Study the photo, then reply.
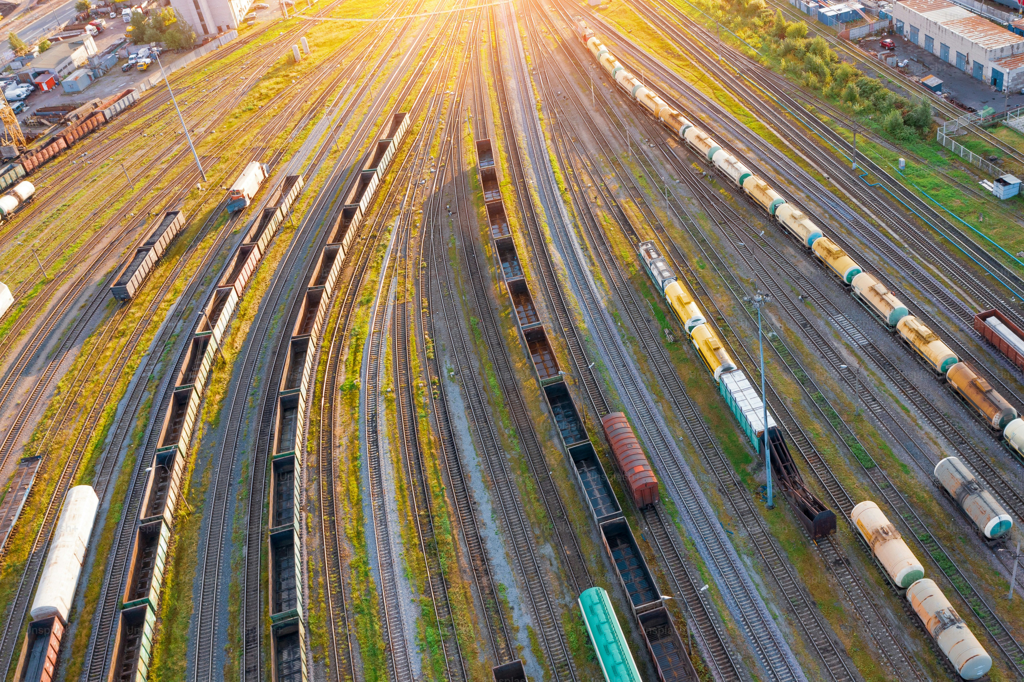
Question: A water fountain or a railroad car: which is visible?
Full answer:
The one in the frame is a railroad car.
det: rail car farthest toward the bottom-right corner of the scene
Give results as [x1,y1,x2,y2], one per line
[904,579,996,682]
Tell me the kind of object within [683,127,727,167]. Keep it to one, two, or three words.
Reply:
rail car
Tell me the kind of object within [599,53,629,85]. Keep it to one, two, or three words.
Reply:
rail car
